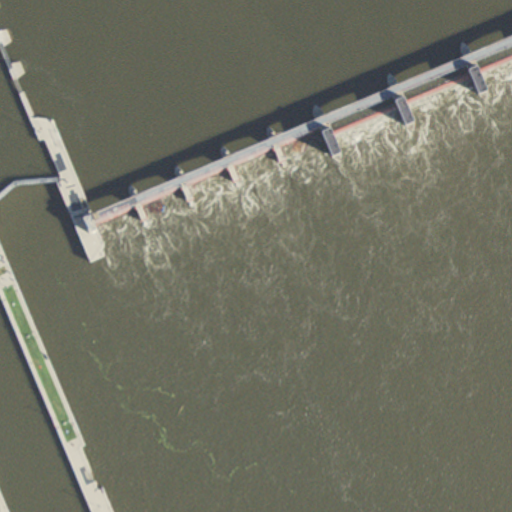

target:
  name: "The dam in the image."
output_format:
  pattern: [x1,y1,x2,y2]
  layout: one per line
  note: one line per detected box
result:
[96,42,512,228]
